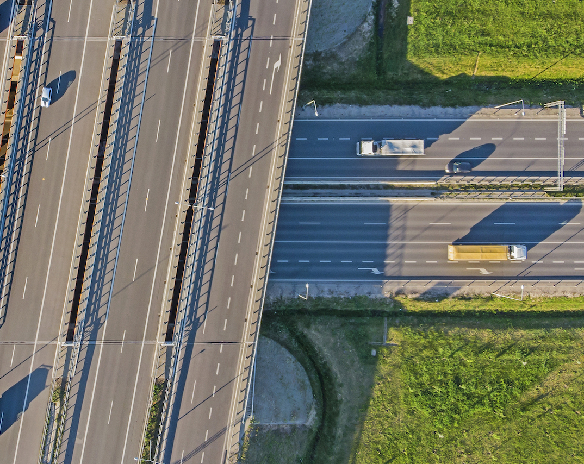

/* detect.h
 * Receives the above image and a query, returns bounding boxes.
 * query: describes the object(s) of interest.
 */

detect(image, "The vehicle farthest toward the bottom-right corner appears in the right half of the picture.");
[447,244,525,261]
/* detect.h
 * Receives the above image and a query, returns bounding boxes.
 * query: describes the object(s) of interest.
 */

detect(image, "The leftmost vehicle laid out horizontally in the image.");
[357,140,424,156]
